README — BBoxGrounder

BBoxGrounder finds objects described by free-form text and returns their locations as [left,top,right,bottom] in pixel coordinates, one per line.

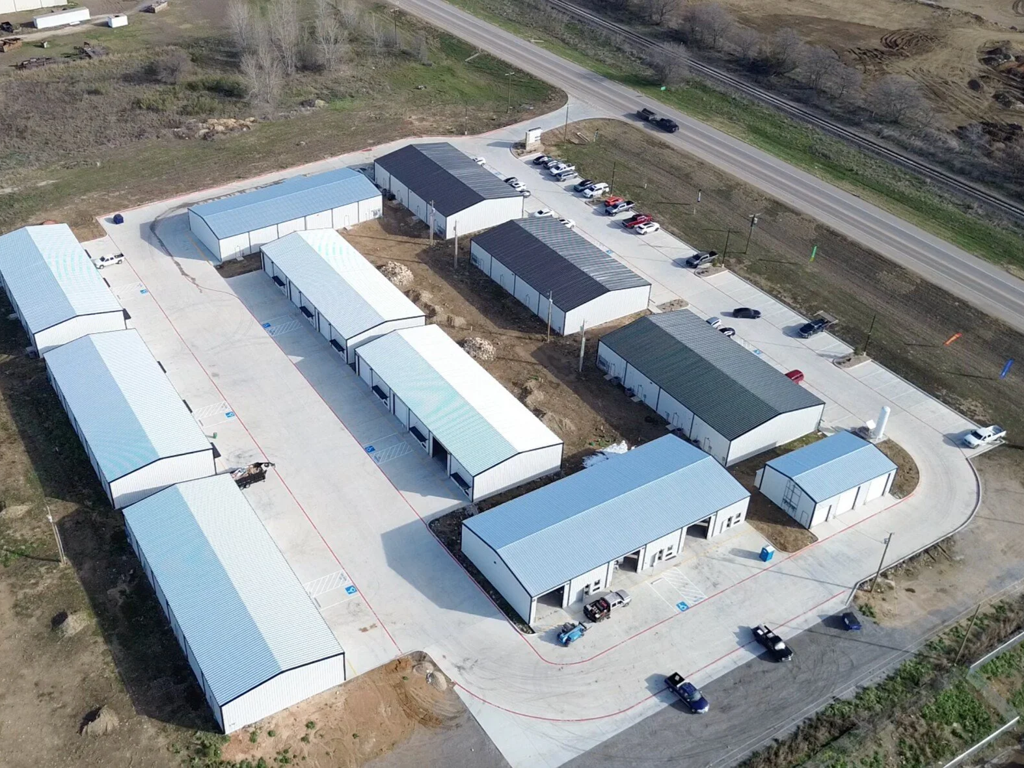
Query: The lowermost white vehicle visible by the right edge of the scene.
[965,425,1001,445]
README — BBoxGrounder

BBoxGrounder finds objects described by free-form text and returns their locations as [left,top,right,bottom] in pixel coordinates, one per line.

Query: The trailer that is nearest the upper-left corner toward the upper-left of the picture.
[31,4,90,27]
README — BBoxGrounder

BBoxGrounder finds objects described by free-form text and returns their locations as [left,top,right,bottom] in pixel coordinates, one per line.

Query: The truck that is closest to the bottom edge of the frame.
[665,674,710,715]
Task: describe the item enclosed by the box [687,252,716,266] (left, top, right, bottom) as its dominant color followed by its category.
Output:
gray vehicle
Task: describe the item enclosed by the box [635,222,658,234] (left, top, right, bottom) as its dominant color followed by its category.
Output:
white vehicle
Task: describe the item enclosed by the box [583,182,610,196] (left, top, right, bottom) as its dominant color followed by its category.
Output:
white vehicle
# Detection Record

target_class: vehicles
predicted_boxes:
[510,180,529,190]
[560,216,577,226]
[557,169,578,181]
[533,208,555,217]
[751,626,796,664]
[654,120,679,130]
[803,317,833,334]
[583,182,610,196]
[687,252,716,266]
[574,178,595,191]
[473,156,490,164]
[721,326,740,336]
[733,306,760,320]
[94,253,126,269]
[549,163,575,175]
[622,215,650,228]
[785,370,808,382]
[606,201,633,214]
[603,195,624,206]
[503,176,522,185]
[582,593,630,619]
[519,188,536,197]
[705,316,726,327]
[555,618,595,648]
[665,674,710,715]
[965,425,1001,445]
[635,222,658,234]
[543,158,563,170]
[532,154,552,166]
